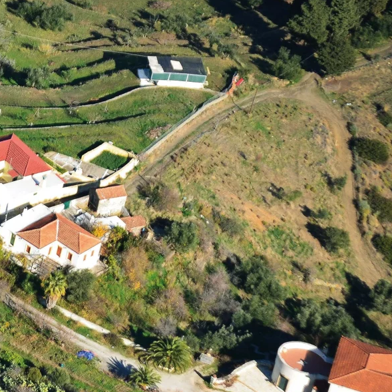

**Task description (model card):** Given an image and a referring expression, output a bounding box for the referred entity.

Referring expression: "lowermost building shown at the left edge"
[0,195,102,268]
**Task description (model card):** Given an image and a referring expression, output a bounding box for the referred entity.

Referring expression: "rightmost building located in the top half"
[138,55,208,90]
